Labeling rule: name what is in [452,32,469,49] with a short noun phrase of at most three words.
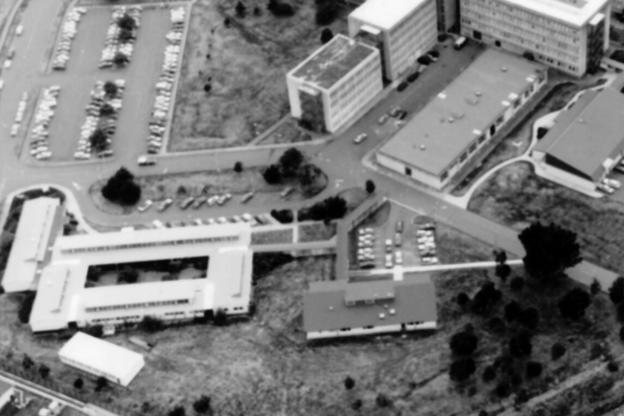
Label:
vehicle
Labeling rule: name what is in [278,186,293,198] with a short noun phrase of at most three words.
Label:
vehicle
